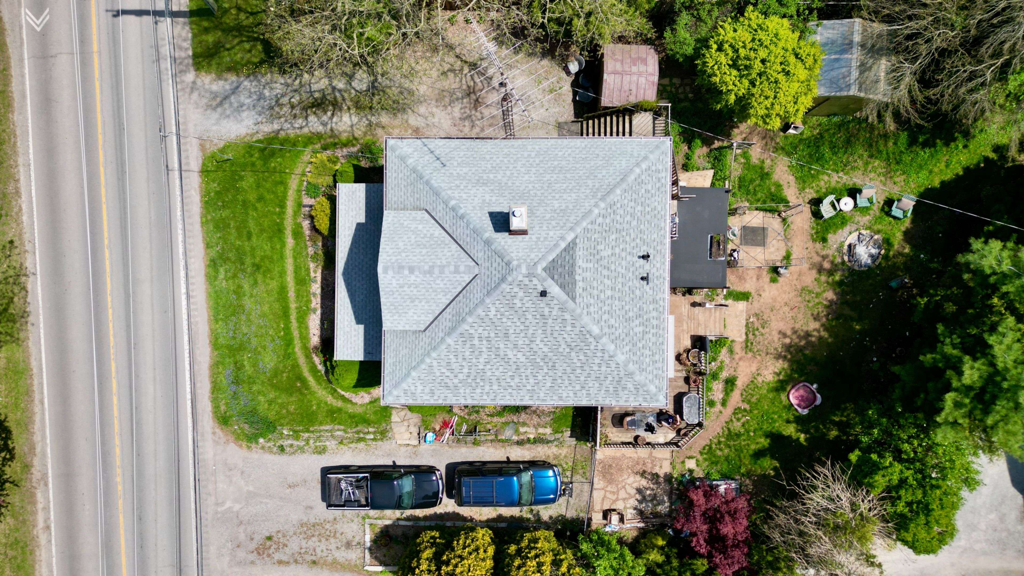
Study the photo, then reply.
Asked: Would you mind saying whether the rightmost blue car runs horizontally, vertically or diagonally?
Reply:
horizontally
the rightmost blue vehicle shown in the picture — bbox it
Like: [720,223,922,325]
[455,462,563,513]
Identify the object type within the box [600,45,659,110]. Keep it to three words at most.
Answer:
shed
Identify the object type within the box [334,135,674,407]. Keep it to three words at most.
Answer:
house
